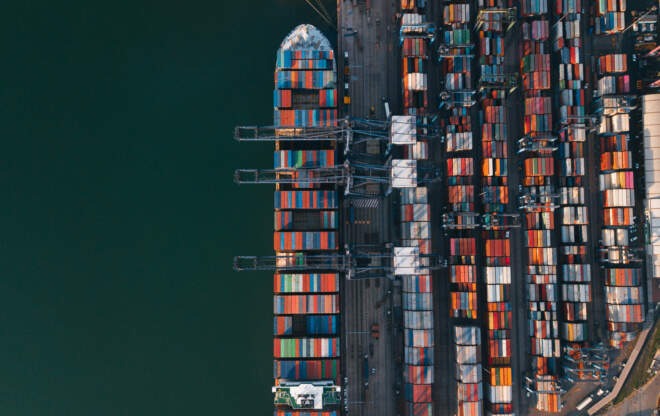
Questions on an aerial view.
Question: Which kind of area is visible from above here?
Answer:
port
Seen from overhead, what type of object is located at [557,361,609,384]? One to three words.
container crane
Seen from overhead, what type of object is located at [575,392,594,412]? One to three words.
vehicle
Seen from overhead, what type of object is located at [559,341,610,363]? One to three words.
container crane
